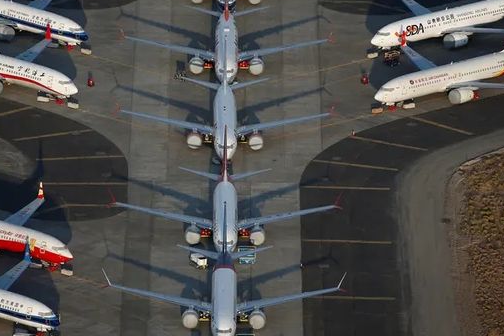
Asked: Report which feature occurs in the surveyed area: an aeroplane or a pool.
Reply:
aeroplane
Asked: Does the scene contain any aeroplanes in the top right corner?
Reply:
Yes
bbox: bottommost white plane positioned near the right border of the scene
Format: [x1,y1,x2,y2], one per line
[375,31,504,110]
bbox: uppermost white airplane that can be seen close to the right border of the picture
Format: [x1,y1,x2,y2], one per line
[372,0,504,53]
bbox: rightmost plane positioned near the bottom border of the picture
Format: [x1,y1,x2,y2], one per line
[103,203,345,336]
